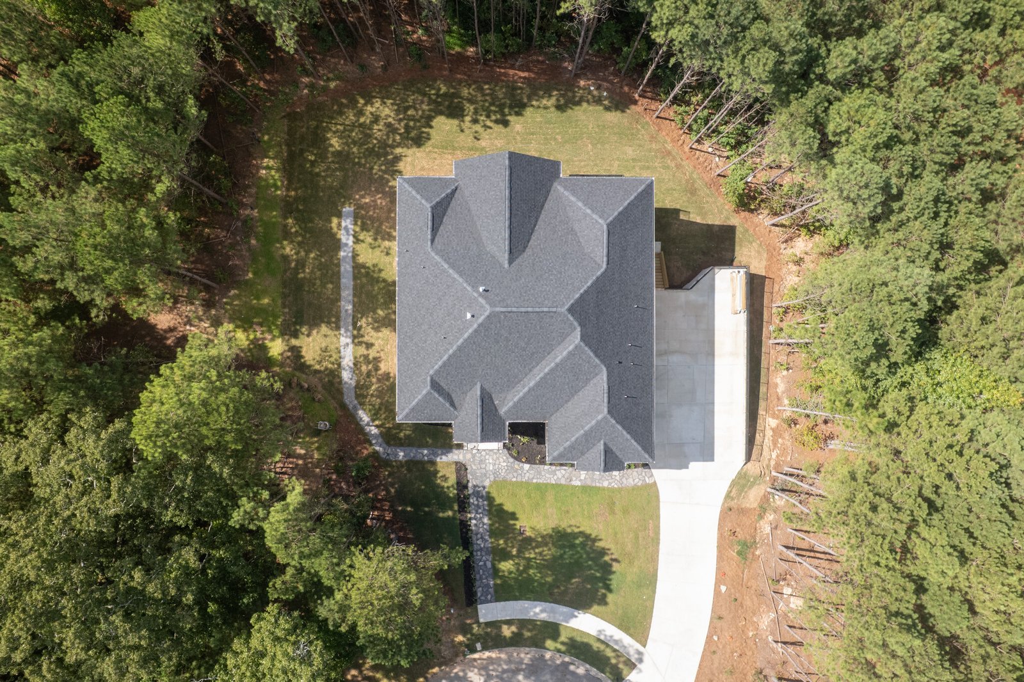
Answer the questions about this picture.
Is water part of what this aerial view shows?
No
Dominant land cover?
trees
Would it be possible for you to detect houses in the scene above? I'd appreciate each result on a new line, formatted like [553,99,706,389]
[395,149,656,474]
